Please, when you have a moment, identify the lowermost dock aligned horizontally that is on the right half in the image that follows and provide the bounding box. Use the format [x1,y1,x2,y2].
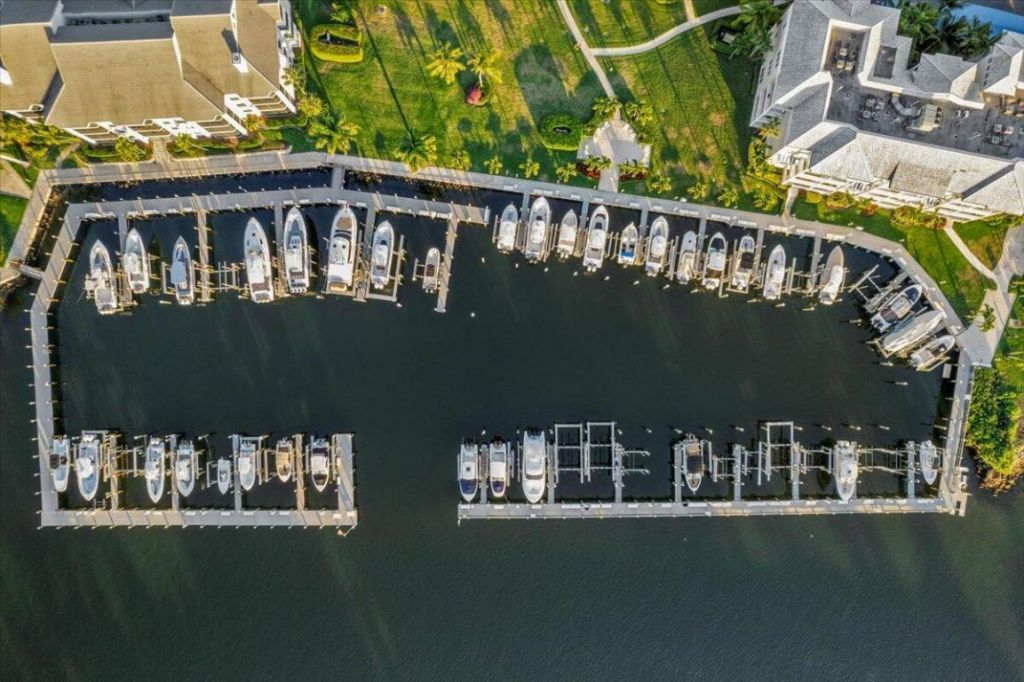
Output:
[457,442,958,518]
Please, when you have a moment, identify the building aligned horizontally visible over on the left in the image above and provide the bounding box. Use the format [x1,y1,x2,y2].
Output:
[0,0,303,141]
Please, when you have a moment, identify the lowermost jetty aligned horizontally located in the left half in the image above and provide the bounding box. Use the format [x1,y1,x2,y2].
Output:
[39,435,358,528]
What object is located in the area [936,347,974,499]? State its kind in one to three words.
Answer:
pier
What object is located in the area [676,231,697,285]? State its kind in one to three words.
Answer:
boat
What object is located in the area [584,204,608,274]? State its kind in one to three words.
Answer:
boat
